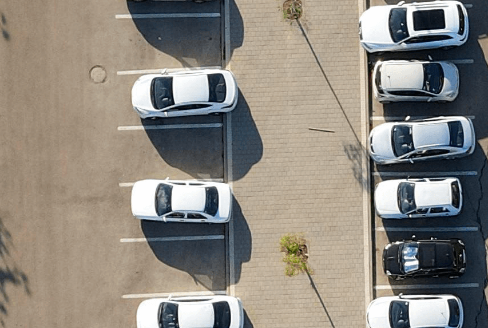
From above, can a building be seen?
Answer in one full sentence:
No, this view has no building in it.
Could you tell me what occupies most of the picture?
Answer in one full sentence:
What you mostly see from above here is paved ground.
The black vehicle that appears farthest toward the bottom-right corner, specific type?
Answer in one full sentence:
It turns out the black vehicle that appears farthest toward the bottom-right corner is a car.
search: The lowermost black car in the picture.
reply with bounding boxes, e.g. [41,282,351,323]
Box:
[382,232,466,281]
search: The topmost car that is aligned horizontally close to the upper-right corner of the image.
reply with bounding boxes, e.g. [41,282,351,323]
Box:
[359,0,468,51]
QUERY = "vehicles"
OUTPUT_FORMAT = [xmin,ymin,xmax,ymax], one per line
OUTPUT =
[131,175,232,224]
[136,291,244,328]
[368,112,475,163]
[359,0,468,51]
[132,66,238,119]
[375,171,463,220]
[382,232,466,281]
[366,289,464,328]
[373,53,459,102]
